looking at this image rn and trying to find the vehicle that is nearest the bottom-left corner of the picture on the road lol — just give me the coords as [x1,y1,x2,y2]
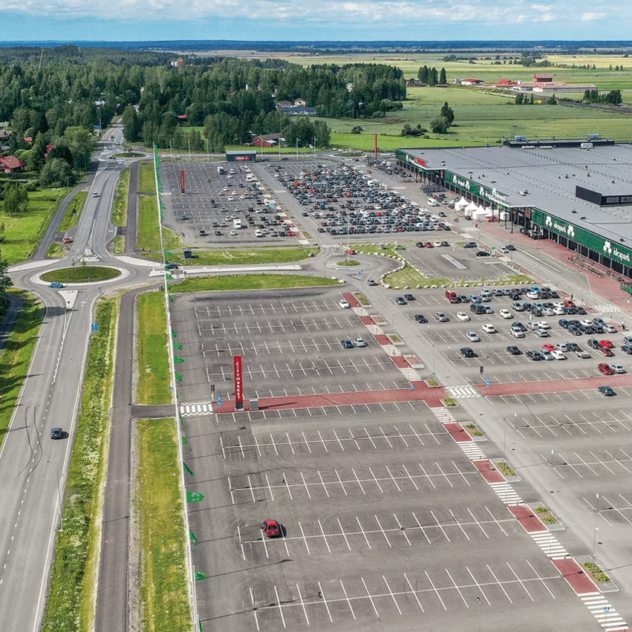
[51,428,64,441]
